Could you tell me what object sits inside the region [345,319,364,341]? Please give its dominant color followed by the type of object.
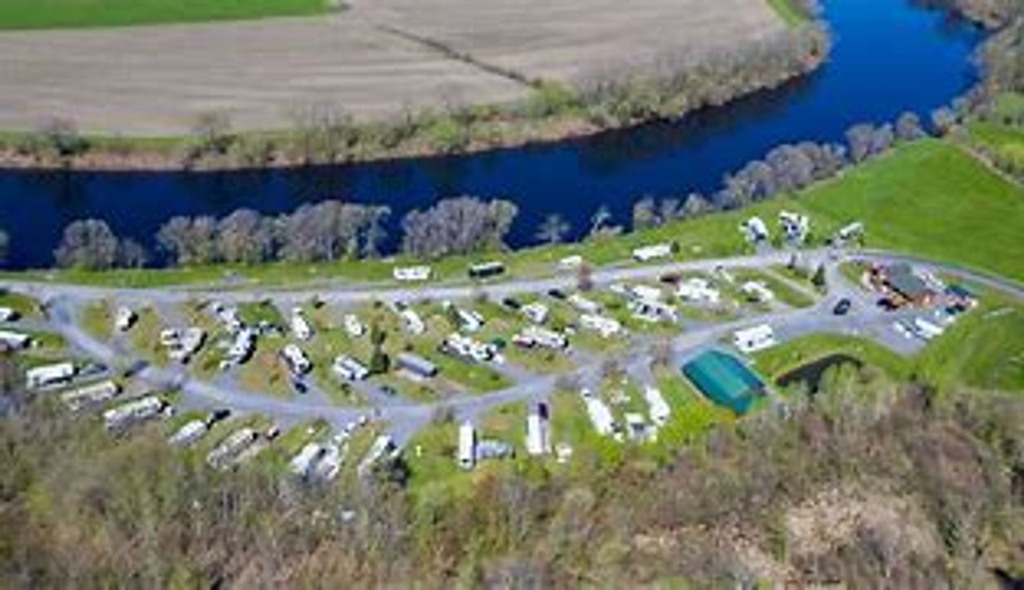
white camper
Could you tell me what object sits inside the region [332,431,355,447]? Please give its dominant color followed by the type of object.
white car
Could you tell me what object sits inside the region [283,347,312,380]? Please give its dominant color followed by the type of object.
white vehicle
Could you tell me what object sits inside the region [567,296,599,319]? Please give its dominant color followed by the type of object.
white camper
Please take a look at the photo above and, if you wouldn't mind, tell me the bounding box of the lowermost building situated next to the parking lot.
[679,349,772,412]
